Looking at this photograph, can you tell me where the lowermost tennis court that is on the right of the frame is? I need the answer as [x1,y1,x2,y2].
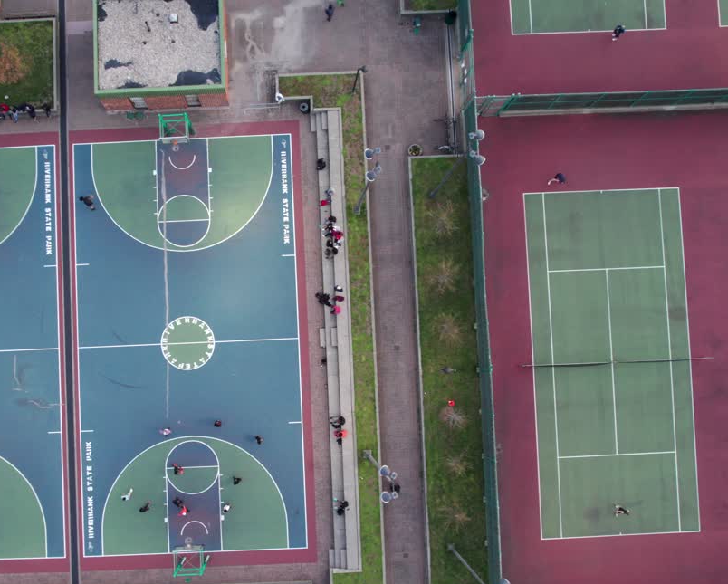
[523,188,700,540]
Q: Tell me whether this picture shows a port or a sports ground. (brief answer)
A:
sports ground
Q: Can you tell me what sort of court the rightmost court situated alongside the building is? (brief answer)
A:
basketball court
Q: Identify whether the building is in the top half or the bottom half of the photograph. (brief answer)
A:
top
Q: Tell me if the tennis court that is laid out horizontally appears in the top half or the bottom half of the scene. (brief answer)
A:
top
